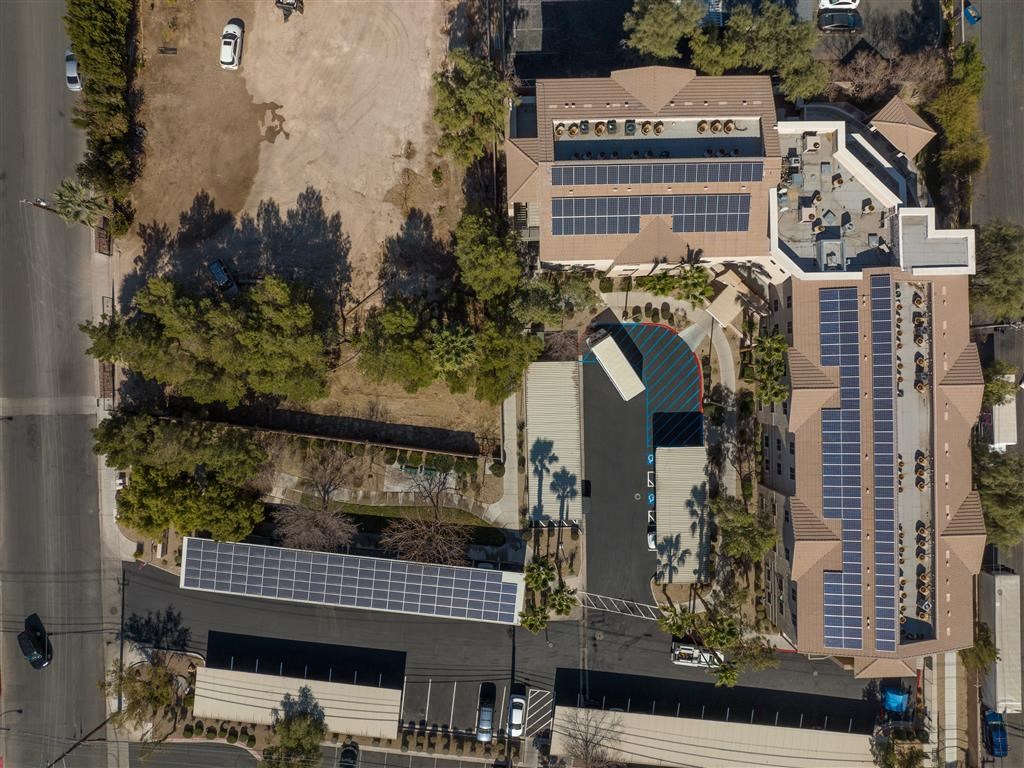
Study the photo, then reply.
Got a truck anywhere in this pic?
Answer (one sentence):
Yes, I can see a truck in this picture.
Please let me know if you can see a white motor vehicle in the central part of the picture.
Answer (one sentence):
Yes, a white motor vehicle appears in the central part of the picture.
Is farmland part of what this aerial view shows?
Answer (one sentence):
No, farmland can't be seen anywhere here.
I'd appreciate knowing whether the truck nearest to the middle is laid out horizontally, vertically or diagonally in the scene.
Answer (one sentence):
From this overhead view, the truck nearest to the middle appears to run diagonally.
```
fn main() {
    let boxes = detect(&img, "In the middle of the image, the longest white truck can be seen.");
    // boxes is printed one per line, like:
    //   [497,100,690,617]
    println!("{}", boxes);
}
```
[583,328,644,400]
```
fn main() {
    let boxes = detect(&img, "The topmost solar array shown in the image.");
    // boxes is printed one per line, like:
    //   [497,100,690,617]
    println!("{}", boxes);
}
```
[552,163,764,186]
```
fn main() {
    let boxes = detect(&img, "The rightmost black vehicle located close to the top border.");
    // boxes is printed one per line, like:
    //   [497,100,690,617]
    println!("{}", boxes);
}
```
[815,8,863,32]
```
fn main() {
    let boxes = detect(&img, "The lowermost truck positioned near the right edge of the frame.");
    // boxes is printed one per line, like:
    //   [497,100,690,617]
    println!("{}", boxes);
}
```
[981,704,1007,755]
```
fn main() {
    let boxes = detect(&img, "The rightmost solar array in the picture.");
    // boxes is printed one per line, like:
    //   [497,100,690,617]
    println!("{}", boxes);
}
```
[871,274,896,652]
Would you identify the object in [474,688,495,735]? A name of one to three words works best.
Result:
car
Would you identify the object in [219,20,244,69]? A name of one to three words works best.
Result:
car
